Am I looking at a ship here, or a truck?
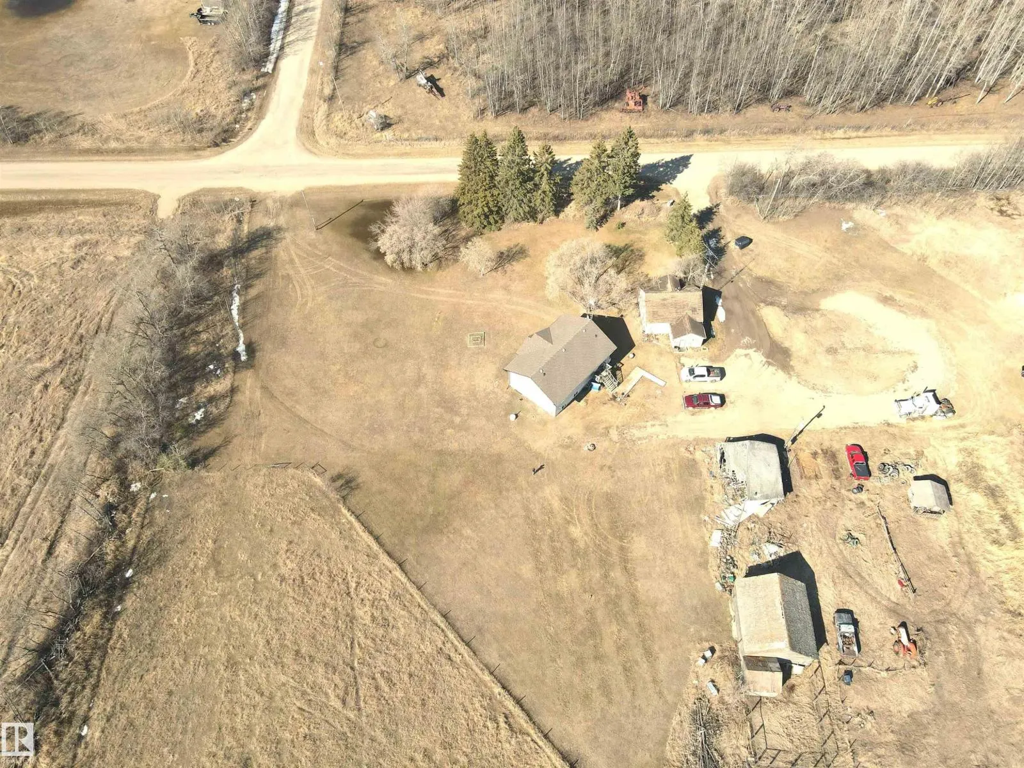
truck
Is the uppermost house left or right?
right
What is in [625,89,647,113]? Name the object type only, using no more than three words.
work vehicle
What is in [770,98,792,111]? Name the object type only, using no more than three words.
vehicle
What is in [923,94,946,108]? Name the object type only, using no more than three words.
work vehicle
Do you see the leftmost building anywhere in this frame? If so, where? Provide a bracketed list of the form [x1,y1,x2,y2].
[502,316,617,415]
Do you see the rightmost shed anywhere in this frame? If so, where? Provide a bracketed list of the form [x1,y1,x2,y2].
[904,478,951,527]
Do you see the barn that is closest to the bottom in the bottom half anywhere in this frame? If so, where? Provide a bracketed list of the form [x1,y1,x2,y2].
[730,570,819,702]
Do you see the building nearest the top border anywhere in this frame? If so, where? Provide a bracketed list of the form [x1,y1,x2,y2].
[640,270,706,356]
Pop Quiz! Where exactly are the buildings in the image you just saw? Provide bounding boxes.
[904,478,951,527]
[711,440,784,540]
[640,270,706,356]
[730,570,819,702]
[502,316,617,415]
